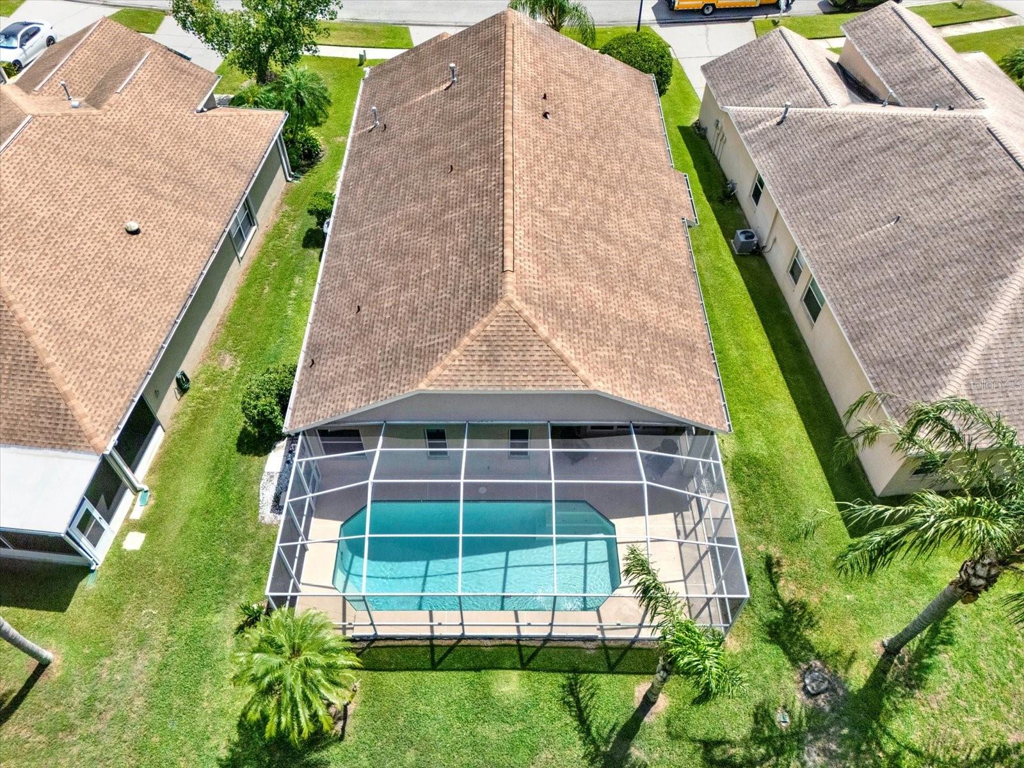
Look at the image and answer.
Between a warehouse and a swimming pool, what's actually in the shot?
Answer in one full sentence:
Looking from above, you can make out a swimming pool.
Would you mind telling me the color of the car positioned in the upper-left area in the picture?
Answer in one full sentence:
In this view, the car positioned in the upper-left area is white.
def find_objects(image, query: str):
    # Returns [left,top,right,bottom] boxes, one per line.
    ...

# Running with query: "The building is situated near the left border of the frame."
[0,17,298,582]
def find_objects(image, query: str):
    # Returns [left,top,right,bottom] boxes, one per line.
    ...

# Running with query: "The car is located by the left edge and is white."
[0,18,58,64]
